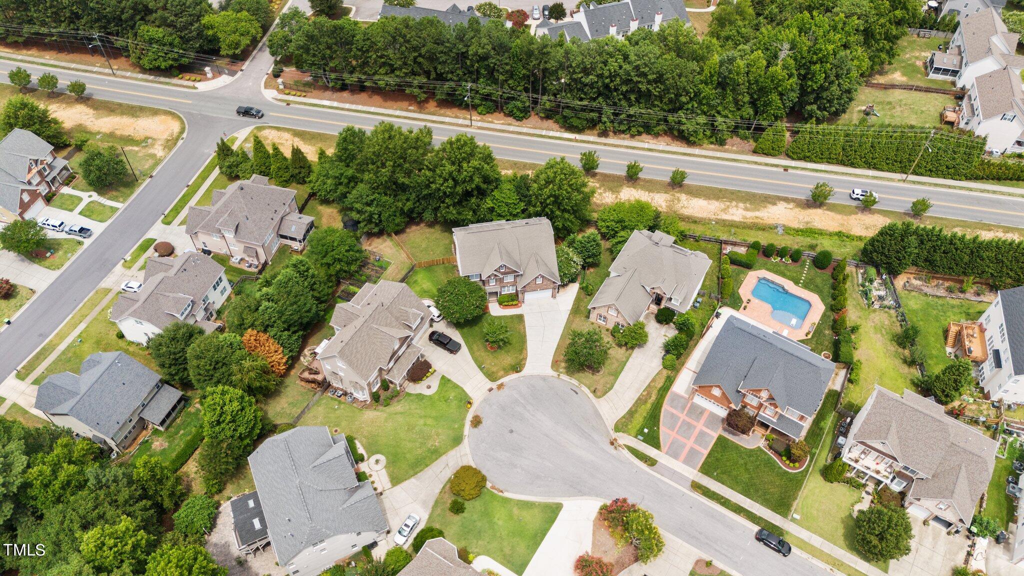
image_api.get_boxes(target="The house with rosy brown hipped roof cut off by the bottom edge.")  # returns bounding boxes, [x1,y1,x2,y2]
[393,537,487,576]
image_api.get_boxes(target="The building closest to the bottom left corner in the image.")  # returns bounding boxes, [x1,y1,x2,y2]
[31,350,187,453]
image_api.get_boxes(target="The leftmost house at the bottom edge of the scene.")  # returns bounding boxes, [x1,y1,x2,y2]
[231,425,389,574]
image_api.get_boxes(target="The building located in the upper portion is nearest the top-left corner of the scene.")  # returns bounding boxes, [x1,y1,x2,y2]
[0,138,75,226]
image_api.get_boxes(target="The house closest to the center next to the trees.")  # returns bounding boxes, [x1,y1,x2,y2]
[453,217,561,303]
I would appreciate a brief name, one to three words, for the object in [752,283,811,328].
swimming pool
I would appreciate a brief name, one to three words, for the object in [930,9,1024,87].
house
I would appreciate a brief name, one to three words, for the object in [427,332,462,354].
truck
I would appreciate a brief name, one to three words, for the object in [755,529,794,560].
car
